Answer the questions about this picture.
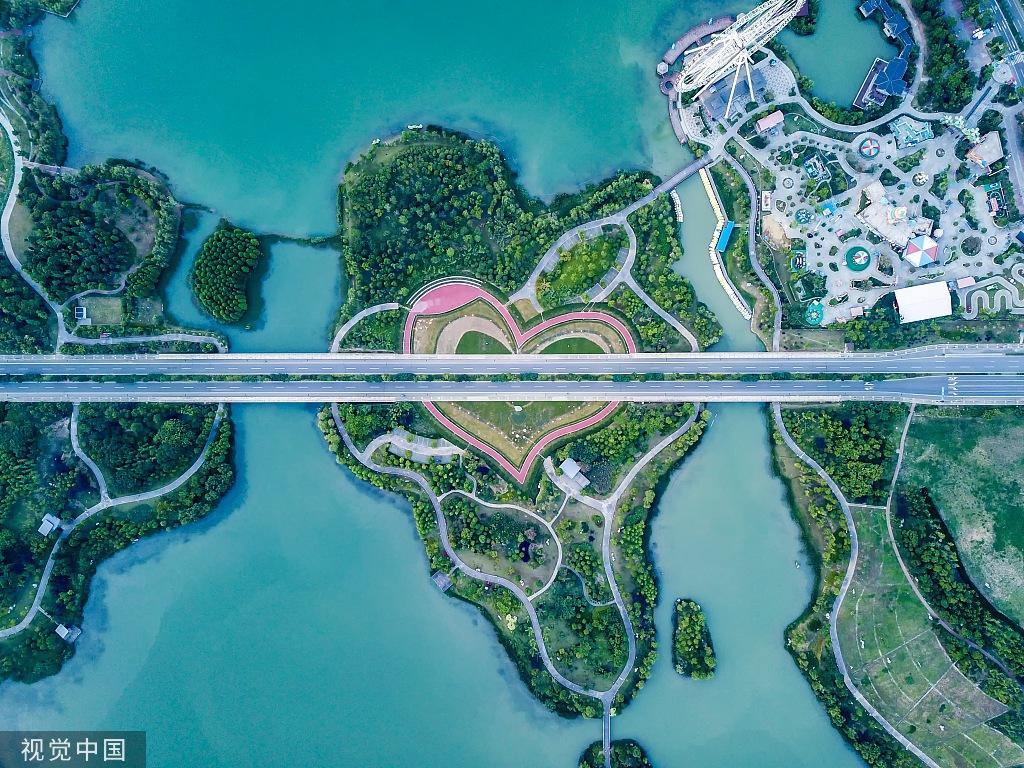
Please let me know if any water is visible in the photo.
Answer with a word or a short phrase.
Yes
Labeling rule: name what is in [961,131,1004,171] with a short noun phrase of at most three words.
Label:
building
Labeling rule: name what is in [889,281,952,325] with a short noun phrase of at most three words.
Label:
tent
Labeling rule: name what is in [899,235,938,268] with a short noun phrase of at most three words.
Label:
tent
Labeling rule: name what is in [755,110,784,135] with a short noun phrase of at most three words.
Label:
building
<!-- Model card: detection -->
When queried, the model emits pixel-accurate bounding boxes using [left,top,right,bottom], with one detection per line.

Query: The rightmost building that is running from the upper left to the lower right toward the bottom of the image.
[559,458,587,489]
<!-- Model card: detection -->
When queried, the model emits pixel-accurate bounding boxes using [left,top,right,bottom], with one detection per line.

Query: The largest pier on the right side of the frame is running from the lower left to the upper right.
[662,14,736,66]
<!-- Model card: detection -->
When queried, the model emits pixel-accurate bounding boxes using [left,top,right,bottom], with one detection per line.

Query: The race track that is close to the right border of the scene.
[956,261,1024,320]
